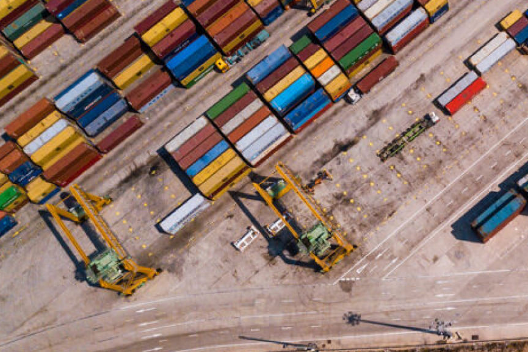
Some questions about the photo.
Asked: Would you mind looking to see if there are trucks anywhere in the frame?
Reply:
Yes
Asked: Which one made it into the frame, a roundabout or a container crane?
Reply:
container crane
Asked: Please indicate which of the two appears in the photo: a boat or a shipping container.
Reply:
shipping container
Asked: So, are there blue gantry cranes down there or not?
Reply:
No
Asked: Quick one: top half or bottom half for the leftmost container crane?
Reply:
bottom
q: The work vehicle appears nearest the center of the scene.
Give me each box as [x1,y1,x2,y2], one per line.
[304,167,331,190]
